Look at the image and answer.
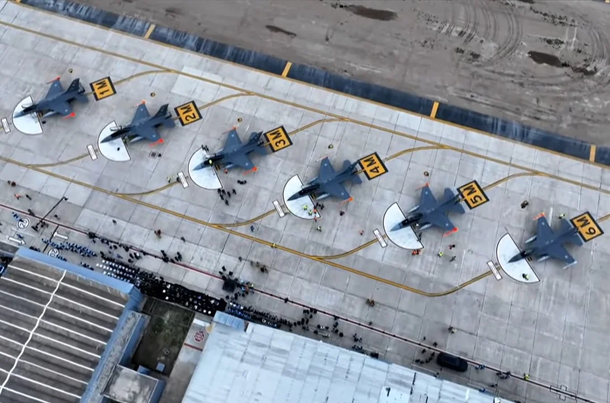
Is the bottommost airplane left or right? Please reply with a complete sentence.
The bottommost airplane sits on the right side.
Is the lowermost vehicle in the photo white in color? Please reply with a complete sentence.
No, the lowermost vehicle is actually black.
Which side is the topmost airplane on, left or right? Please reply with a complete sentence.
The topmost airplane is on the left side of the image.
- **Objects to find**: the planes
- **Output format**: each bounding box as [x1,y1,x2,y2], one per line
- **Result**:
[10,77,88,120]
[506,215,586,268]
[287,157,365,204]
[388,183,467,235]
[189,127,269,174]
[99,101,176,145]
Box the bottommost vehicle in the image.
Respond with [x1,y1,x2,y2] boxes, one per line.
[434,352,467,374]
